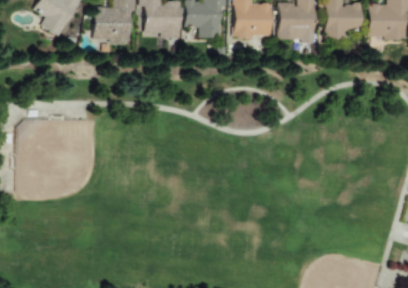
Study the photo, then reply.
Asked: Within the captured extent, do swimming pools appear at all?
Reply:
Yes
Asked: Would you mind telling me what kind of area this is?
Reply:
sports ground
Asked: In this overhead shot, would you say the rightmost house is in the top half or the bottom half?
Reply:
top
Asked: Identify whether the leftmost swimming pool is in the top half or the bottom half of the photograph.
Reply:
top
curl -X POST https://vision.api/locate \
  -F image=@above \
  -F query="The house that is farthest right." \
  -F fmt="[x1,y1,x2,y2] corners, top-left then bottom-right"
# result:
[368,0,408,41]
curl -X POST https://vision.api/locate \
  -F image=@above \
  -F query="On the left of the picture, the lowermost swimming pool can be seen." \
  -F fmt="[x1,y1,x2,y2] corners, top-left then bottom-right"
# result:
[79,34,100,53]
